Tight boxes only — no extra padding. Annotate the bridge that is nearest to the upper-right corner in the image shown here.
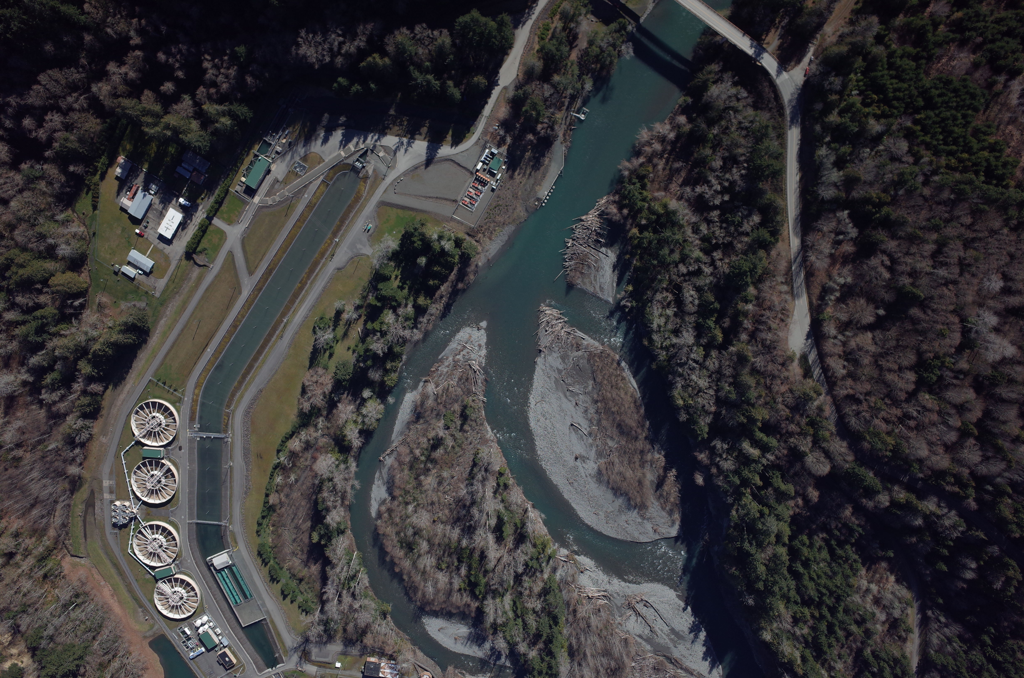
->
[670,0,774,66]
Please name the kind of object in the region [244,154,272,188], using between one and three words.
house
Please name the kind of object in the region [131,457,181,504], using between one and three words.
storage tank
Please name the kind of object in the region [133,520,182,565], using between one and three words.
storage tank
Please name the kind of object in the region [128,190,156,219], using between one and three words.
building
